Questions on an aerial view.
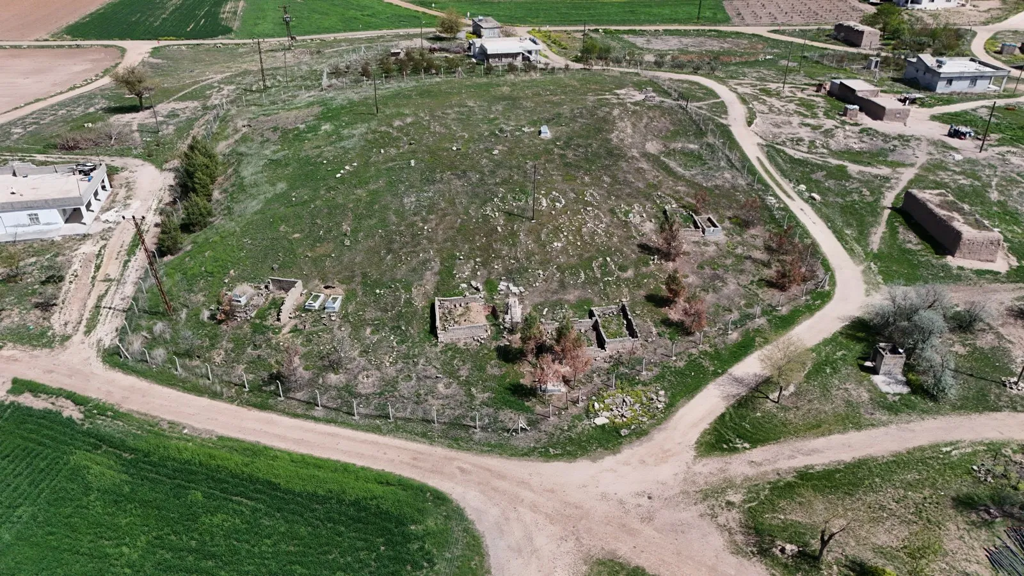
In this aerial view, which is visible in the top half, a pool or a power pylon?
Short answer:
power pylon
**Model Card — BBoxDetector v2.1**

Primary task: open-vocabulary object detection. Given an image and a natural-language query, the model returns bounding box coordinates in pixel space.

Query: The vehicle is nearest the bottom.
[947,124,974,141]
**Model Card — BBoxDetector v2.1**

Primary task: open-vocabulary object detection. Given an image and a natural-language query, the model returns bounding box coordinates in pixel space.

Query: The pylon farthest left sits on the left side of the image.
[120,214,176,315]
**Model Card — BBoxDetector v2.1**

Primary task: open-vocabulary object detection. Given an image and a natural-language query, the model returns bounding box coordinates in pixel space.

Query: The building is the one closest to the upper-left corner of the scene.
[0,161,126,237]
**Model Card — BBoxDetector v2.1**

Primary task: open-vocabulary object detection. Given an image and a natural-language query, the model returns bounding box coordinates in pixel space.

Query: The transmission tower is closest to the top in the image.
[251,38,267,91]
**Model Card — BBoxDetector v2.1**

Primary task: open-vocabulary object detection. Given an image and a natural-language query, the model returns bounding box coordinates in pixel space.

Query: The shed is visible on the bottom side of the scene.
[862,339,921,393]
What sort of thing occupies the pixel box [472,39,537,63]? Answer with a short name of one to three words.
house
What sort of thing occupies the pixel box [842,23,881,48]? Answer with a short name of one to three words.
building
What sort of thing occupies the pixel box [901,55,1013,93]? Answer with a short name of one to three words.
house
